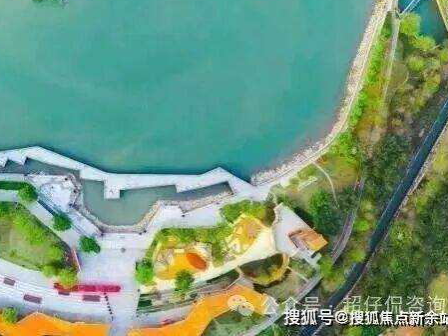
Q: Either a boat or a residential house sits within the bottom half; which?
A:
residential house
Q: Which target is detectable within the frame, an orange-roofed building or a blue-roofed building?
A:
orange-roofed building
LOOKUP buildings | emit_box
[289,228,328,257]
[0,311,110,336]
[125,285,268,336]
